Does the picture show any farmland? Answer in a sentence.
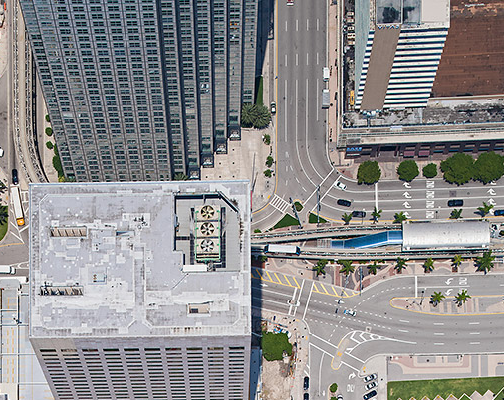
No, no farmland is visible.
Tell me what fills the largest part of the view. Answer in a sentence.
Most of the picture is covered by buildings.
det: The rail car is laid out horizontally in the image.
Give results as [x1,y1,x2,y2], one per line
[265,244,300,257]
